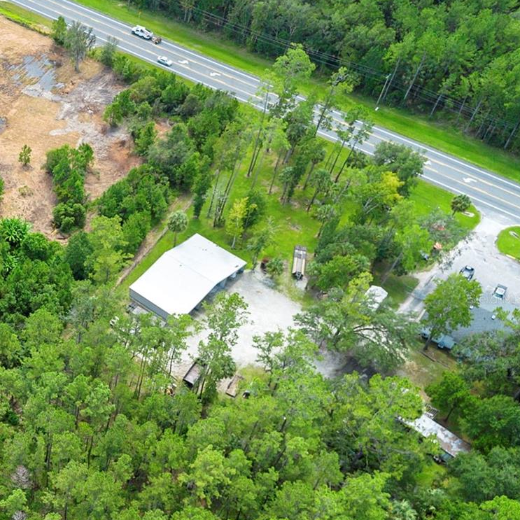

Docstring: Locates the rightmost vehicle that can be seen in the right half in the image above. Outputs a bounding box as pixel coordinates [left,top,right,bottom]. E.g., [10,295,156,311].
[490,277,512,298]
